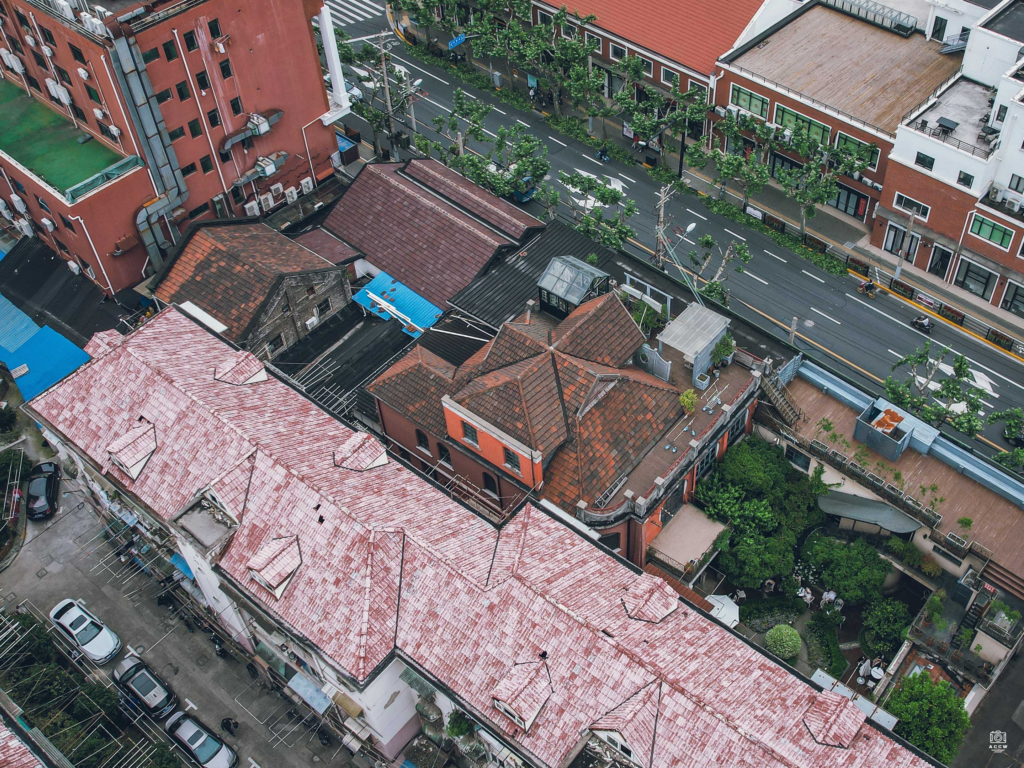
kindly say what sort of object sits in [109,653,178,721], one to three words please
car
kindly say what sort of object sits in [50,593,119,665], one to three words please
car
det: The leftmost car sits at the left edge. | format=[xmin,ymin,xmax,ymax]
[21,462,61,525]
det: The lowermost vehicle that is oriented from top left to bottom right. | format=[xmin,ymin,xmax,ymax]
[161,704,239,768]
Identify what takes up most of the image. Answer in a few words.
buildings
